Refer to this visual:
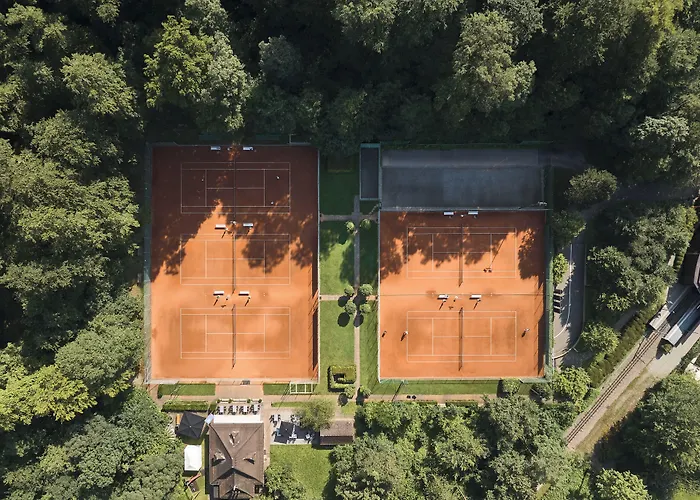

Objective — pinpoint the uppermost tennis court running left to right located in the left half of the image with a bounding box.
[151,146,317,223]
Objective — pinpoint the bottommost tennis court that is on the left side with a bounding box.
[151,289,317,379]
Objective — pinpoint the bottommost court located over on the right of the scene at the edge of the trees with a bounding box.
[379,288,545,378]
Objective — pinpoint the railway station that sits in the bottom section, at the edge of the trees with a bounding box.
[644,282,700,345]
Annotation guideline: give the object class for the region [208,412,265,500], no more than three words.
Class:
building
